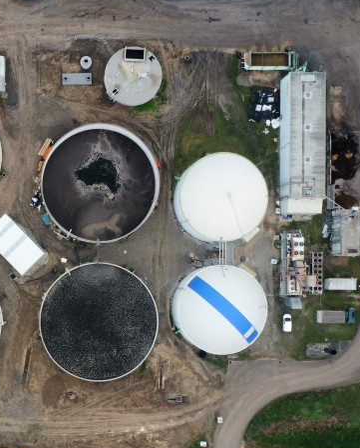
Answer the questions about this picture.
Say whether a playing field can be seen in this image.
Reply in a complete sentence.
No, the frame has no playing field in it.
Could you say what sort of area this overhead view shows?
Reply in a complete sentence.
It's an industrial area.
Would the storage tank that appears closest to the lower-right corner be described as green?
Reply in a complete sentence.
No, the color of the storage tank that appears closest to the lower-right corner is white.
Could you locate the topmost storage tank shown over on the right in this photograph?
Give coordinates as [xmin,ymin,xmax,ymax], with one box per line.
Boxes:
[174,152,269,242]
